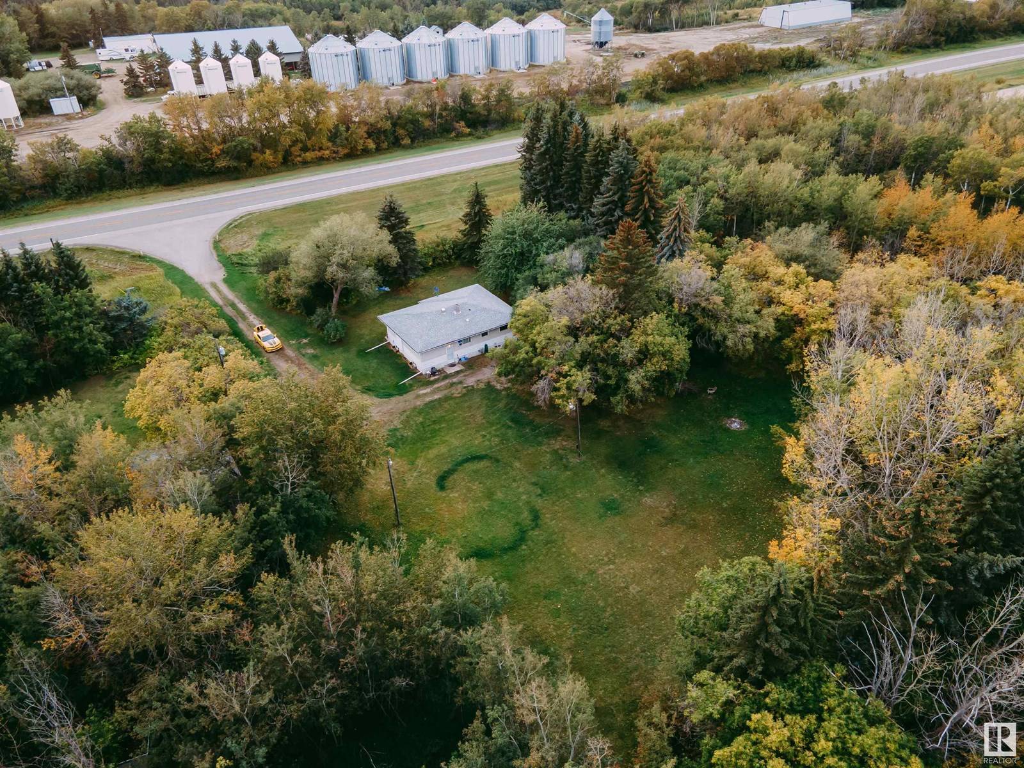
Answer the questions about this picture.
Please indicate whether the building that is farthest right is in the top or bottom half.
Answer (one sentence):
The building that is farthest right sits in the top half of the picture.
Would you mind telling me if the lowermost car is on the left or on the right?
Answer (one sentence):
It is on the left.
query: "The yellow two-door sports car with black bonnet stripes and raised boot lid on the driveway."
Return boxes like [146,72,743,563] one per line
[254,321,282,351]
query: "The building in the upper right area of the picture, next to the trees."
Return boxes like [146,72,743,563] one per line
[754,0,853,29]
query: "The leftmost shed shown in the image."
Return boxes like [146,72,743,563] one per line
[47,97,84,115]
